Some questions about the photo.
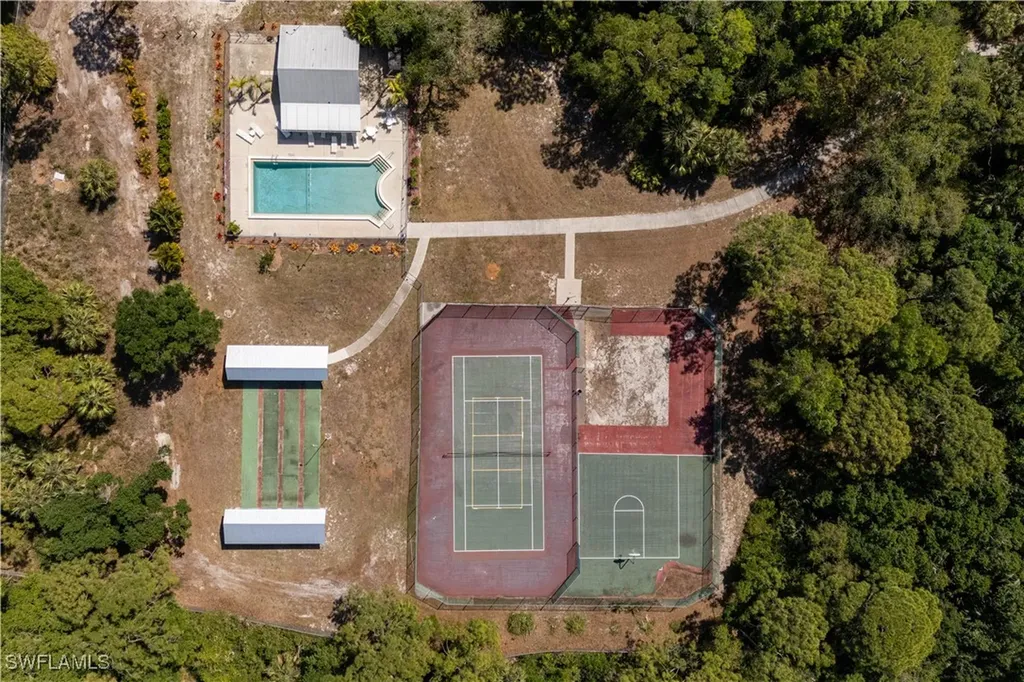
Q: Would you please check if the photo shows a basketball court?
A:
Yes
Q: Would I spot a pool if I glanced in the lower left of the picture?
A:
No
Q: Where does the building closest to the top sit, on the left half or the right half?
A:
left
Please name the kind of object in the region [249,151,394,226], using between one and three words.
swimming pool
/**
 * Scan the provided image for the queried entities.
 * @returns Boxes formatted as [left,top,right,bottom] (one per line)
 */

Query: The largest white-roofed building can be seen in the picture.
[277,25,362,135]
